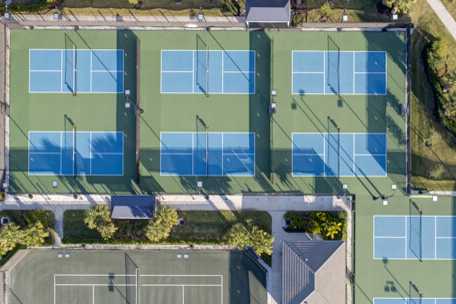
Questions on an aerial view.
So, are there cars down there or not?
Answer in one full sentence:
No, this view has no car in it.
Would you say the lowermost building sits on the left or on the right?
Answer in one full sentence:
It is on the right.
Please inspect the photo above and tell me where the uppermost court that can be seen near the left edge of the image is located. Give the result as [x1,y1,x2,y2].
[10,31,139,112]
